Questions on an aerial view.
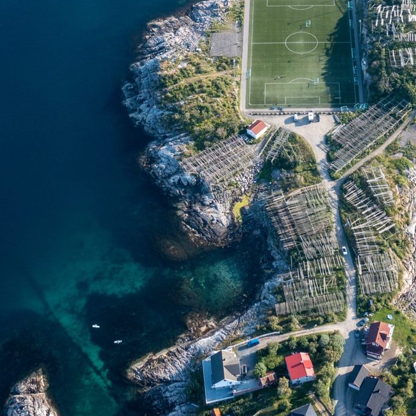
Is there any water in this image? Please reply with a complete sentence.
Yes, there's water in this view.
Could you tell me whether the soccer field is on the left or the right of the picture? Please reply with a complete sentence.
The soccer field sits on the right side.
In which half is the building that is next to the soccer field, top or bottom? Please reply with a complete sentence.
You can find the building that is next to the soccer field in the top half.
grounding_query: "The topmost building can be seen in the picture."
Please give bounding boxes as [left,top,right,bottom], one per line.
[244,120,271,141]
